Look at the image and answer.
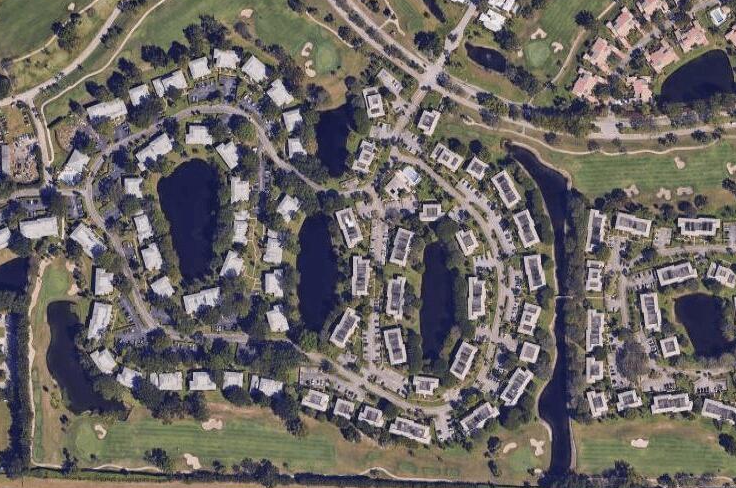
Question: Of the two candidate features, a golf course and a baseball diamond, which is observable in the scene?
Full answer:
Of the two, only a golf course appears.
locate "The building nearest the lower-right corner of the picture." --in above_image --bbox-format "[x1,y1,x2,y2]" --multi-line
[702,397,736,423]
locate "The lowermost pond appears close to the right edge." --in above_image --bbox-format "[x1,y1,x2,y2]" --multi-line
[675,293,729,357]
